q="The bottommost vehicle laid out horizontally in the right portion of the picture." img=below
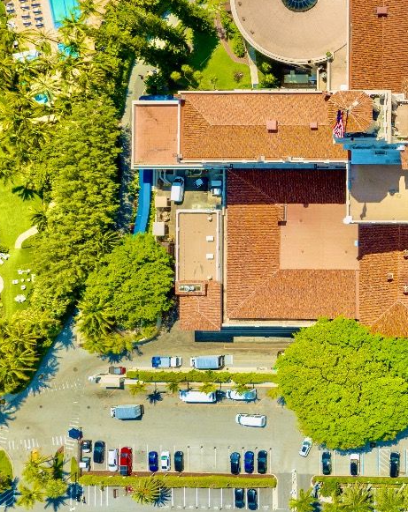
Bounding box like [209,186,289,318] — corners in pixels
[237,411,270,427]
